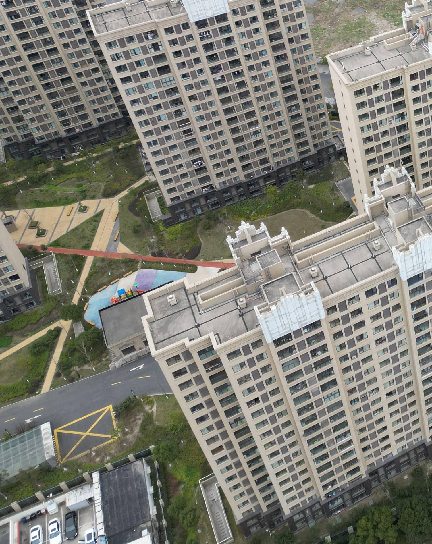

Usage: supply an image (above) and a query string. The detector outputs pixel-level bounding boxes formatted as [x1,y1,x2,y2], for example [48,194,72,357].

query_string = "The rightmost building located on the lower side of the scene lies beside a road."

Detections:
[139,167,432,539]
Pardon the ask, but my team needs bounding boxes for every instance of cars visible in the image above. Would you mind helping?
[63,515,79,542]
[28,527,43,544]
[46,520,64,544]
[81,525,100,544]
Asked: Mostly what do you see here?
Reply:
buildings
